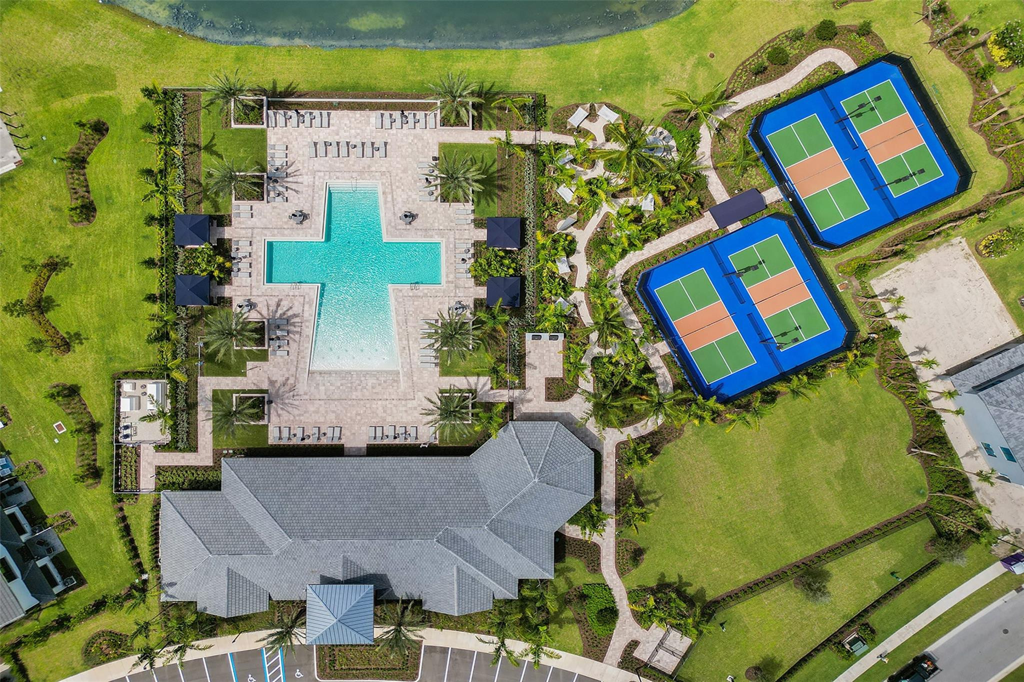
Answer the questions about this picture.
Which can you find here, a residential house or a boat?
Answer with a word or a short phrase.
residential house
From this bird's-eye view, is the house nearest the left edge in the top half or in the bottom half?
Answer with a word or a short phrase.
bottom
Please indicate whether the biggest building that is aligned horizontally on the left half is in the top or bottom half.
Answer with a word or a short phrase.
bottom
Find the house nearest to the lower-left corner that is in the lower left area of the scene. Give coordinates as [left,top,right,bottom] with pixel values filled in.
[0,483,65,625]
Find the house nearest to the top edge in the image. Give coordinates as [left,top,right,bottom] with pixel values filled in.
[948,342,1024,489]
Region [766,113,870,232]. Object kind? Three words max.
sports court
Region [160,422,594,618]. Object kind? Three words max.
building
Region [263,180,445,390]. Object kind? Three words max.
swimming pool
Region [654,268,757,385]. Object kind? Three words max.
sports court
